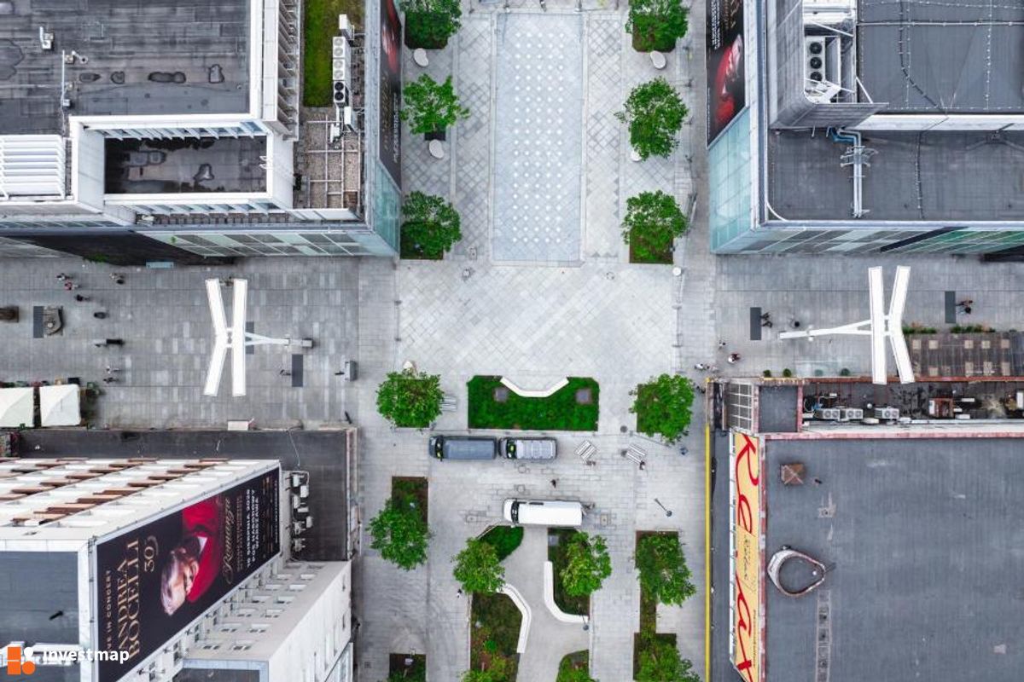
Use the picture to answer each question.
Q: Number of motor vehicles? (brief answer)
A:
3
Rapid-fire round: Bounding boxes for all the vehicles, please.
[499,434,558,463]
[504,497,586,528]
[429,434,498,463]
